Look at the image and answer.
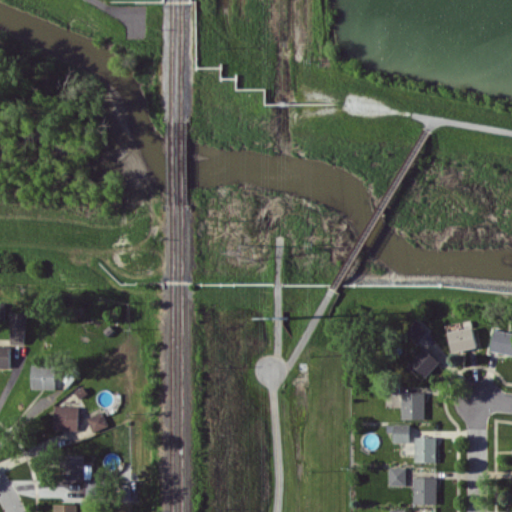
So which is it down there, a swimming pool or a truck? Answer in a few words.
swimming pool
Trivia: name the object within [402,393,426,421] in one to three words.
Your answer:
house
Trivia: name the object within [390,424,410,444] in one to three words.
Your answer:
building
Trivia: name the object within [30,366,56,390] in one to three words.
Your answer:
building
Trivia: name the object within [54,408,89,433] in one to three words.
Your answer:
house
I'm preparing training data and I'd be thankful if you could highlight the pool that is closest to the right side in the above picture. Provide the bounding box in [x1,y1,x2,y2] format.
[360,432,382,455]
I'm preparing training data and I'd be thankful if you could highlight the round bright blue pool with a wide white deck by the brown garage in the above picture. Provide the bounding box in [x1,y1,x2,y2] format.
[96,390,122,415]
